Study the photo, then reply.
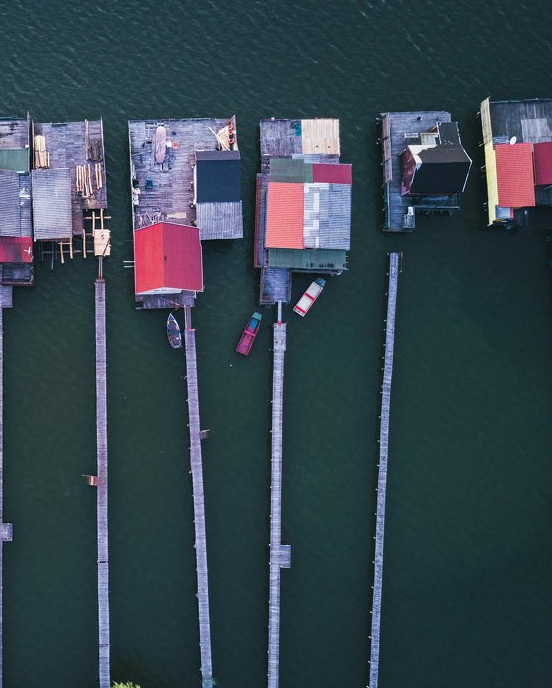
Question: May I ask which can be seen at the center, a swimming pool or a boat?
boat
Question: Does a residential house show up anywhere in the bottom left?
No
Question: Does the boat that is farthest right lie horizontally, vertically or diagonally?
diagonally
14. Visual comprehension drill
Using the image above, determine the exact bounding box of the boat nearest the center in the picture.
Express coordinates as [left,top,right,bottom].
[234,312,261,357]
